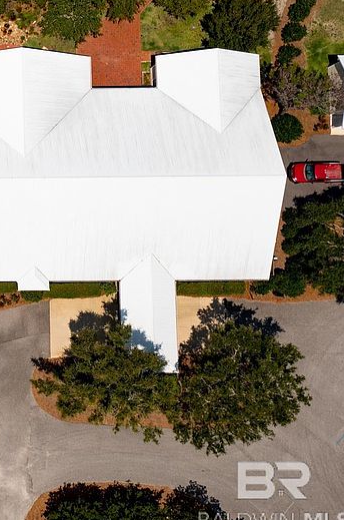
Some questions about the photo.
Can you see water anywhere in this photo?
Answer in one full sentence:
No, the scene doesn't show any water.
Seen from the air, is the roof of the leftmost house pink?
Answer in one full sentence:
No, from above the roof of the leftmost house looks white.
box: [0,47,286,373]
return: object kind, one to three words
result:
house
